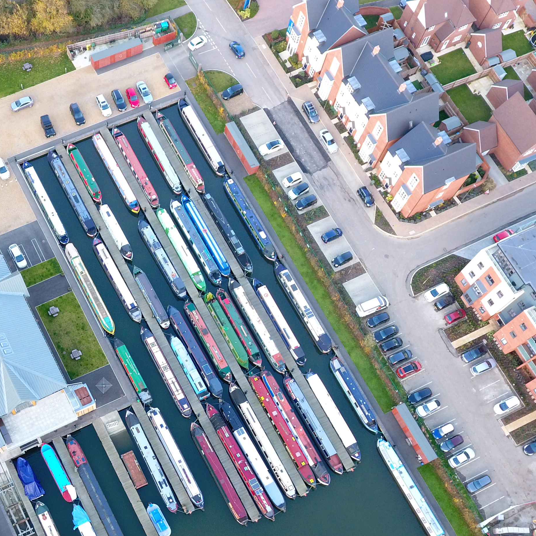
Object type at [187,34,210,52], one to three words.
car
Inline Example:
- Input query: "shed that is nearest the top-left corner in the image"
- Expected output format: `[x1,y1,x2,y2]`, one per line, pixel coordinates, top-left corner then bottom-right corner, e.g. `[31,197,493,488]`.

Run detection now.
[90,35,145,71]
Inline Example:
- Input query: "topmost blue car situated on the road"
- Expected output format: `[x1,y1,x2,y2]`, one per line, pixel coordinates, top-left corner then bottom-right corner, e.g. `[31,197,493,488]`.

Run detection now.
[229,42,246,60]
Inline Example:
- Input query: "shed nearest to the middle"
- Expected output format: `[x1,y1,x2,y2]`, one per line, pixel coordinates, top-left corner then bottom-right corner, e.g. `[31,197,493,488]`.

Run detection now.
[224,116,262,173]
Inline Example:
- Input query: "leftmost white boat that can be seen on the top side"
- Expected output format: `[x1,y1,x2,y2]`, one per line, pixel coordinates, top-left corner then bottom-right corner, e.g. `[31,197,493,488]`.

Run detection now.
[24,161,71,246]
